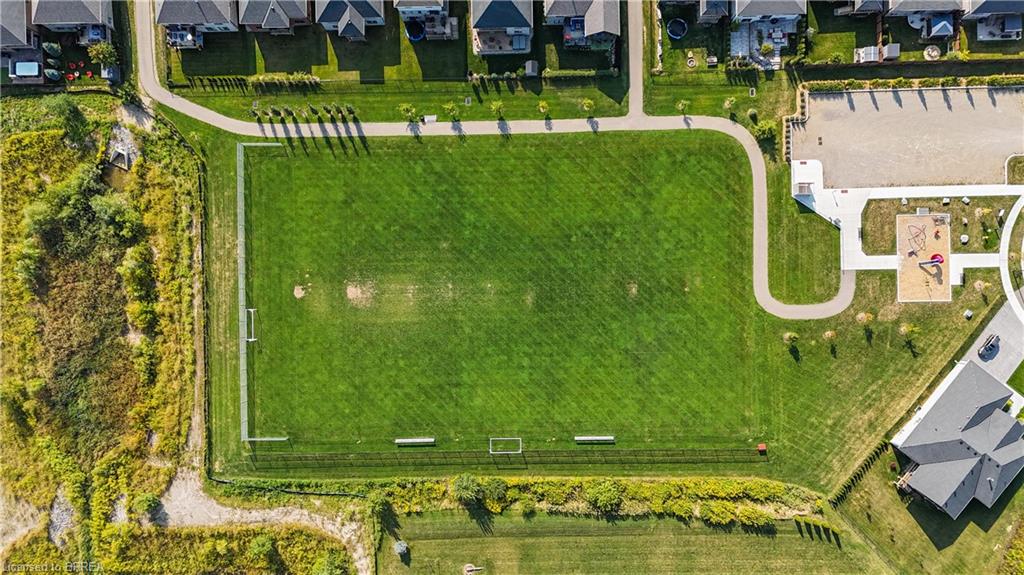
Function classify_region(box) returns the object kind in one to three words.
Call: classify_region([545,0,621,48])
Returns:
house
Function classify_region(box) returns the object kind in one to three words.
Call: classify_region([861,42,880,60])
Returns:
shed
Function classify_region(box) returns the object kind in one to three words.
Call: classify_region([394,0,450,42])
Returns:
house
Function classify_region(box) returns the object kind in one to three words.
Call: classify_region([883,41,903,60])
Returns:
shed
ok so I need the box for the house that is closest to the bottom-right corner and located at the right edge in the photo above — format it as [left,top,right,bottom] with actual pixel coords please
[887,360,1024,521]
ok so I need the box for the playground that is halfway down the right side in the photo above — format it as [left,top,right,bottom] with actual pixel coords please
[897,214,953,303]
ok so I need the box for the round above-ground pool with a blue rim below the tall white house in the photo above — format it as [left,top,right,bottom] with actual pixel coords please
[404,17,426,40]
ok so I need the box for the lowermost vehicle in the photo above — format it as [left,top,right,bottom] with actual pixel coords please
[975,334,998,356]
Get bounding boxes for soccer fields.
[252,141,770,452]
